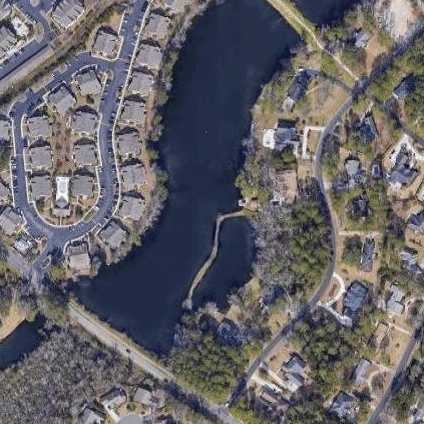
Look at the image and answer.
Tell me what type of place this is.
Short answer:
residential area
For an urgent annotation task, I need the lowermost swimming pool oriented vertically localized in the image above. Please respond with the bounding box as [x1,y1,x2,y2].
[57,176,69,204]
